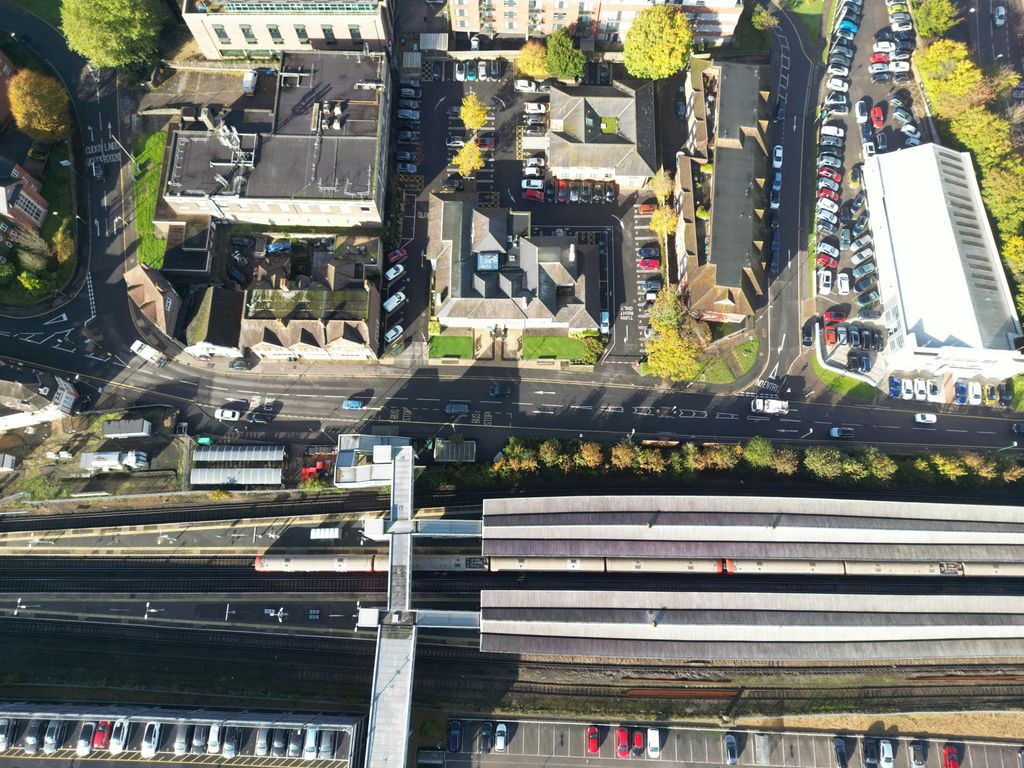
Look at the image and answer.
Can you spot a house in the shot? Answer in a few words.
Yes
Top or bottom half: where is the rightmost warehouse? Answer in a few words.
top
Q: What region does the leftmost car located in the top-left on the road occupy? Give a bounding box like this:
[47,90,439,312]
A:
[92,163,106,184]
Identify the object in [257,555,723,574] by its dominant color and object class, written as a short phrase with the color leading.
white train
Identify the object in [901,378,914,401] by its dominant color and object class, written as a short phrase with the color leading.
white vehicle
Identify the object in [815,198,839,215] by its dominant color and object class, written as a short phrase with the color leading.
white car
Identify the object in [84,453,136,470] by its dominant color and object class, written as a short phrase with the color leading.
white vehicle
